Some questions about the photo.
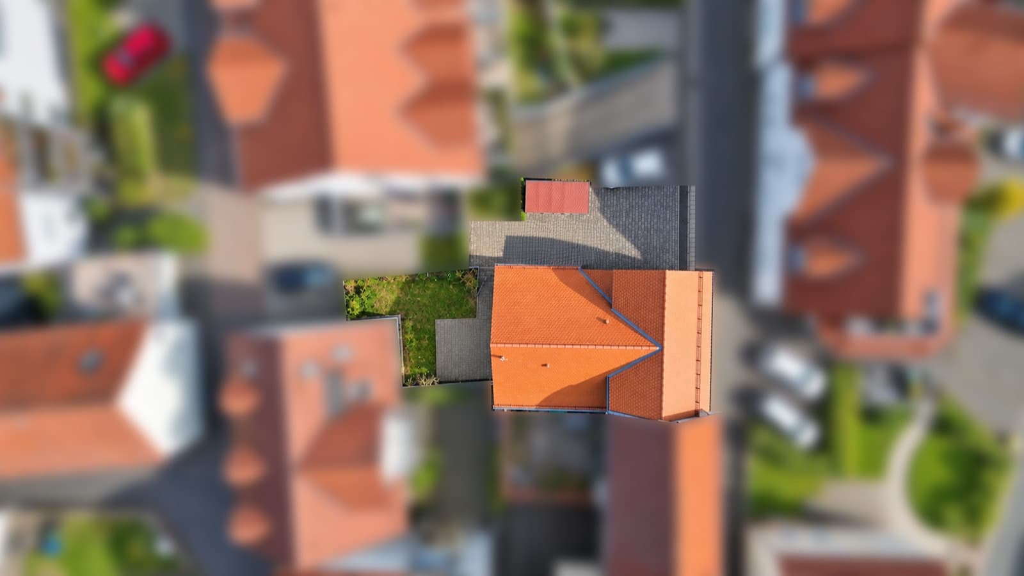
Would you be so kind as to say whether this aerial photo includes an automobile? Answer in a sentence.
Yes, this view includes an automobile.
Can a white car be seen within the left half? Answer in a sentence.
No, the scene shows no white car within the left half.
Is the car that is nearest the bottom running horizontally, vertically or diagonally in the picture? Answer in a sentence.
In this picture, the car that is nearest the bottom lies diagonally.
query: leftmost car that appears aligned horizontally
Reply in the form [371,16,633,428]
[268,262,338,296]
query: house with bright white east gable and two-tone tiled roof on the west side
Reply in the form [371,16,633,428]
[0,316,201,480]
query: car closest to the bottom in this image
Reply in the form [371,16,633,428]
[753,392,820,451]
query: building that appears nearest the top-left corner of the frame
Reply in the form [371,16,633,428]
[0,0,67,116]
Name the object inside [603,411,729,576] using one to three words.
house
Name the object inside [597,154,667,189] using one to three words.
car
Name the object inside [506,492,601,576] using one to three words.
building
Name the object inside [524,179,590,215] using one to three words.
shed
